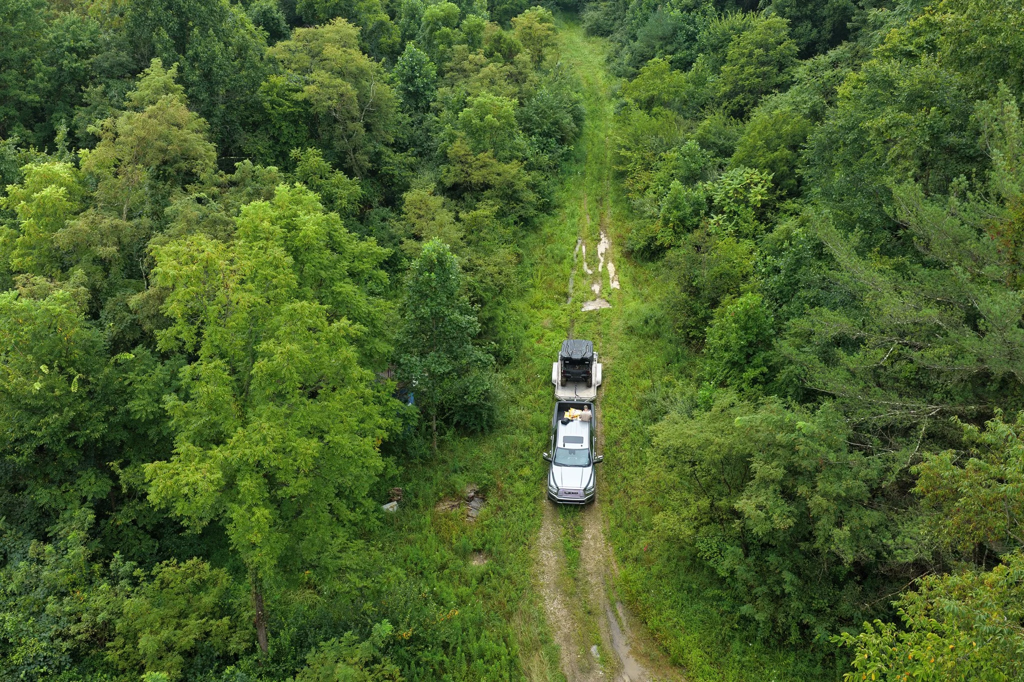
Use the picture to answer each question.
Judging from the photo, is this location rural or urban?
rural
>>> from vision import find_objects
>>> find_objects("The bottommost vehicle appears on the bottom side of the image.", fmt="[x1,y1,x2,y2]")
[541,403,604,504]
